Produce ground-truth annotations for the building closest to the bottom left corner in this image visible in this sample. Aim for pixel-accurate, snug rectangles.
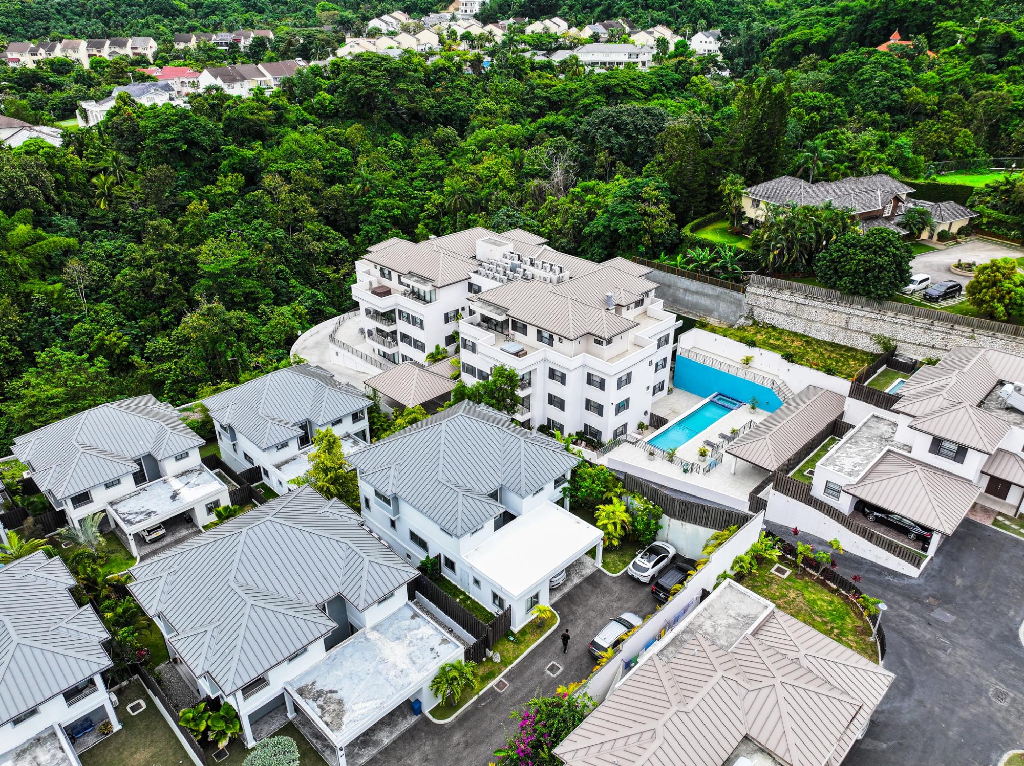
[0,550,116,766]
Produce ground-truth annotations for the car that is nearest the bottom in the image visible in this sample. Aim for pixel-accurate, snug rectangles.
[581,610,643,668]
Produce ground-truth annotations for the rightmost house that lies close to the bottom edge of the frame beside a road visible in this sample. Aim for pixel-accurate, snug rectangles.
[553,572,896,766]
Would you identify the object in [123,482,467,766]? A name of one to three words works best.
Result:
house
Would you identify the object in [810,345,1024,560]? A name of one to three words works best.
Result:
house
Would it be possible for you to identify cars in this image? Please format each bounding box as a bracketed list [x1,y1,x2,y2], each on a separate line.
[859,502,937,546]
[903,273,938,294]
[621,543,679,593]
[550,568,576,597]
[581,610,643,668]
[925,277,964,302]
[648,550,704,597]
[140,524,177,557]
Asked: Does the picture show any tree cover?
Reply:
Yes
